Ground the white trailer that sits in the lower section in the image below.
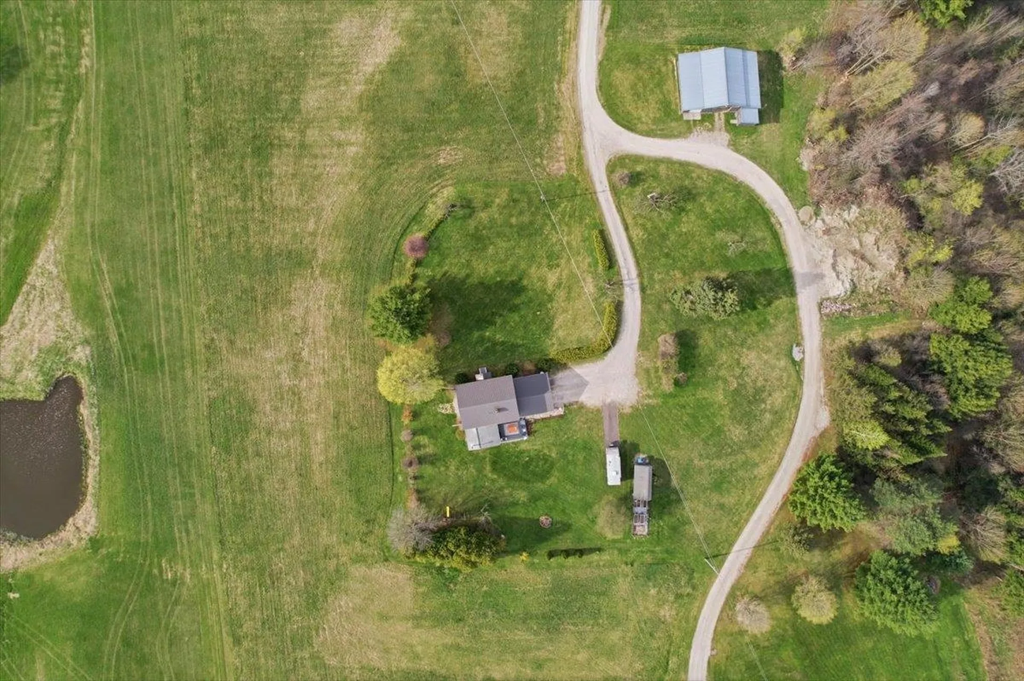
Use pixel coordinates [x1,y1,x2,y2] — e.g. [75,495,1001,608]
[605,439,621,485]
